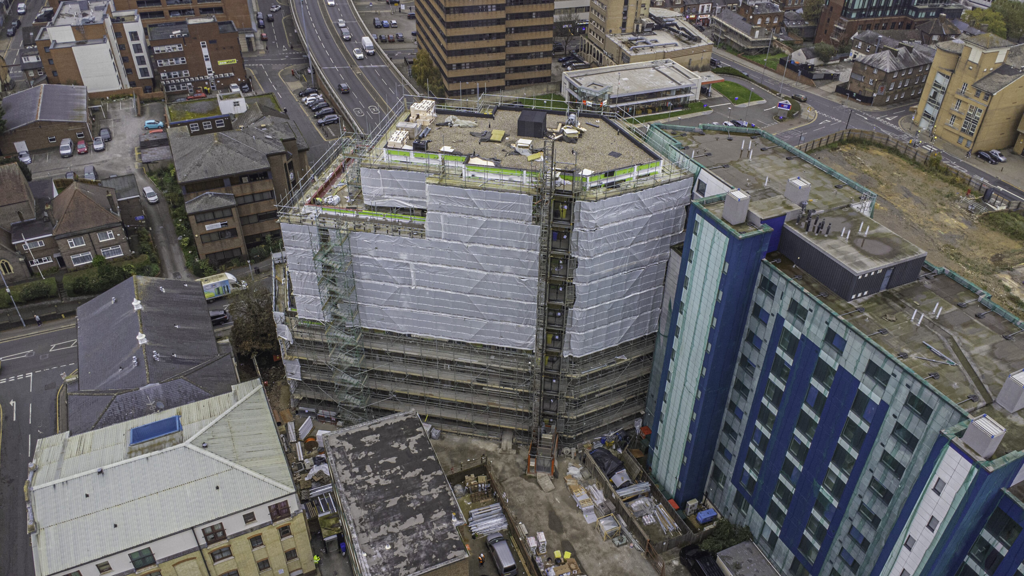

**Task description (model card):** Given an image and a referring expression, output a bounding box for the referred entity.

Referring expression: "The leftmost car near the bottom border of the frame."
[483,529,524,576]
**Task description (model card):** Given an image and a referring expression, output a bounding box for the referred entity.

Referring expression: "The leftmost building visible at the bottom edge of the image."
[15,381,308,576]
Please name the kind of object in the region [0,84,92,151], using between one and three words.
shed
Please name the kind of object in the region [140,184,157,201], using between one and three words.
car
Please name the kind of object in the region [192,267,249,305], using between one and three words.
truck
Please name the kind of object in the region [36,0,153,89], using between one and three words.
building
